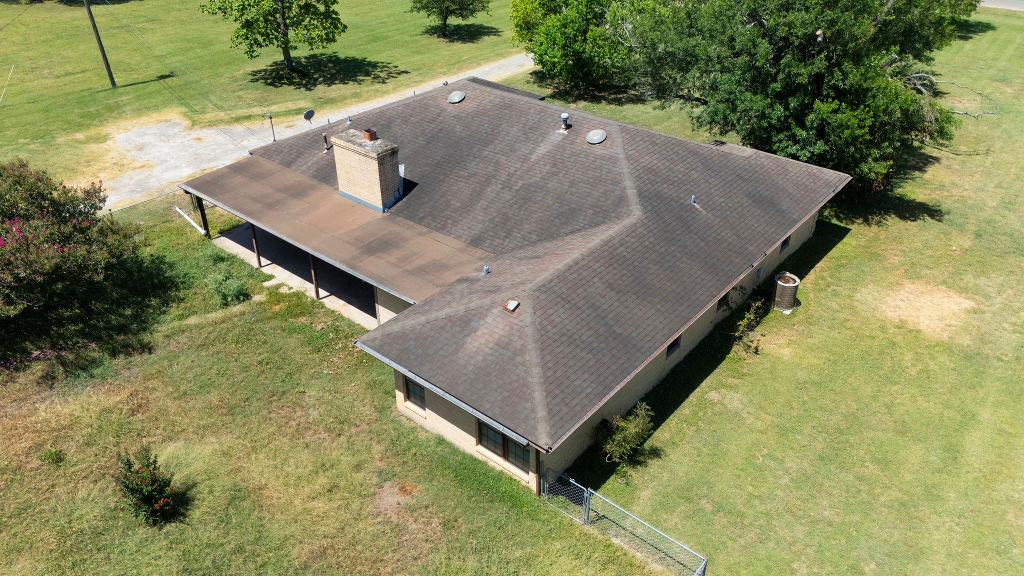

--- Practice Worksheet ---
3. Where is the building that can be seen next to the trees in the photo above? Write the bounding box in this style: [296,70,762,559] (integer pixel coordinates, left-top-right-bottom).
[176,80,855,501]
